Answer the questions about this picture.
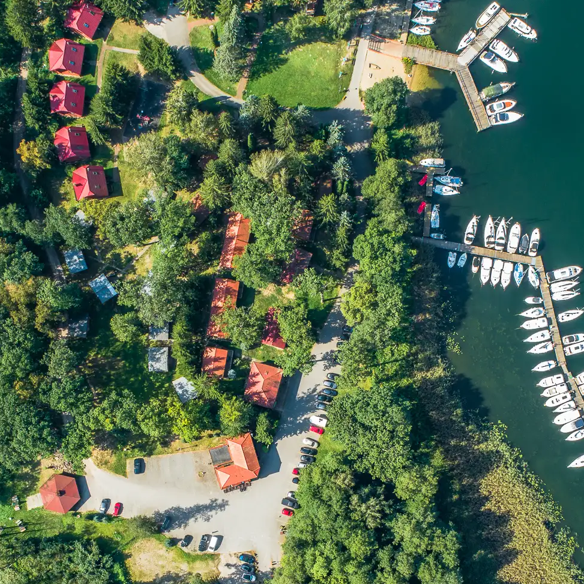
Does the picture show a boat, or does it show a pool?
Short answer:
boat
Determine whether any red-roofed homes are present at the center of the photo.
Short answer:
Yes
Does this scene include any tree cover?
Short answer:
Yes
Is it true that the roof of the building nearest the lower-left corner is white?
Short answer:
No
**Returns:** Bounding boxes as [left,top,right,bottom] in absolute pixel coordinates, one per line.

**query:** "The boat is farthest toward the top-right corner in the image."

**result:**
[506,18,537,37]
